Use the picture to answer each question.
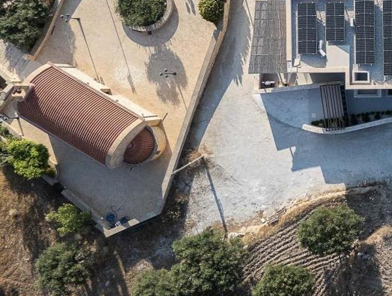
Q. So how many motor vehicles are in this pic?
0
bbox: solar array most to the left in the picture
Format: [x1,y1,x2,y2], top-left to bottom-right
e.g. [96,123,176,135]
[298,1,319,56]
